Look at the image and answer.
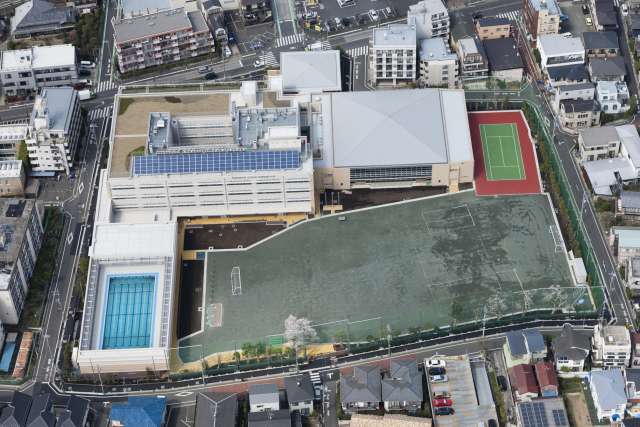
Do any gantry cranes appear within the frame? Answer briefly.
No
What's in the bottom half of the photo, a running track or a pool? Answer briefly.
pool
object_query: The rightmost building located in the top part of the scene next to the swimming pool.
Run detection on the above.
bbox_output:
[94,69,322,246]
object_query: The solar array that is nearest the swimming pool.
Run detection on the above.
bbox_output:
[133,150,299,174]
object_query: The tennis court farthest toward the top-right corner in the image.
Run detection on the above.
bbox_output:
[468,108,541,195]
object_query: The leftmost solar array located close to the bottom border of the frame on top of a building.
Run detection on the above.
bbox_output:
[520,401,546,427]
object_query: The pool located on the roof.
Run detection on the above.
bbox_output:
[99,274,159,348]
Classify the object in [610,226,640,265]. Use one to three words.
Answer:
house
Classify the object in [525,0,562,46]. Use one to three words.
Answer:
building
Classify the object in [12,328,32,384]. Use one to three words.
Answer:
shed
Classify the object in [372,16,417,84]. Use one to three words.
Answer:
building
